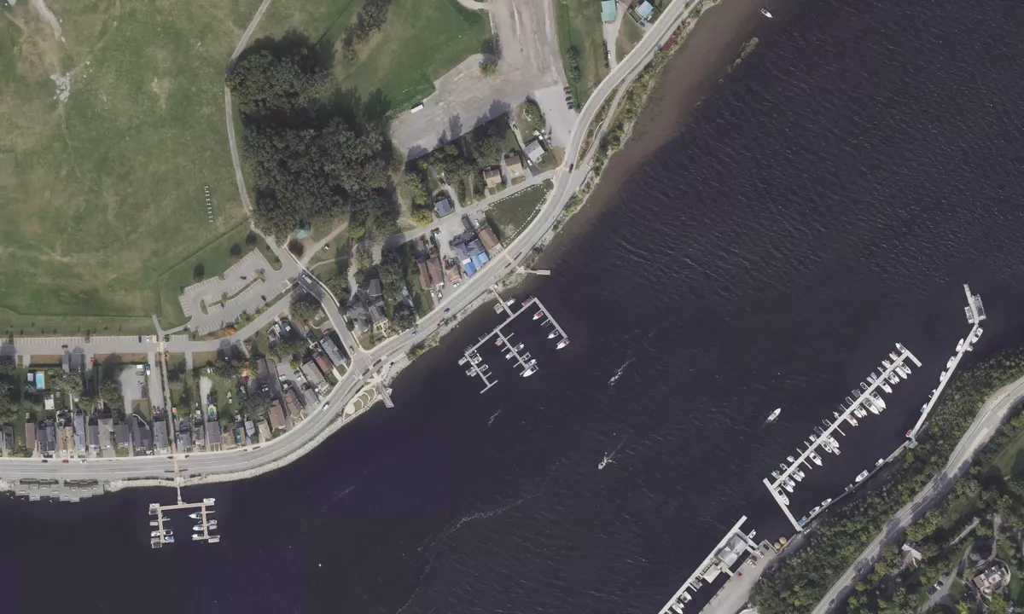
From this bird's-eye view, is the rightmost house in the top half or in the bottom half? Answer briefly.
bottom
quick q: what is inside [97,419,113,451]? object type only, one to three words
house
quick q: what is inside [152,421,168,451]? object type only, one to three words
house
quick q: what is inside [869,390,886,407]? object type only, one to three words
boat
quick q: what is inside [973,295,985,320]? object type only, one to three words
boat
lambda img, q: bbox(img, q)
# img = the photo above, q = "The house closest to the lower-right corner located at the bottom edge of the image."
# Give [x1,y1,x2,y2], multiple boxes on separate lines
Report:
[971,564,1007,595]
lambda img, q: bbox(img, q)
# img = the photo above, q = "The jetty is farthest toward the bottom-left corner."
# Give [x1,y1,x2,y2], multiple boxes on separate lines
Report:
[150,485,220,544]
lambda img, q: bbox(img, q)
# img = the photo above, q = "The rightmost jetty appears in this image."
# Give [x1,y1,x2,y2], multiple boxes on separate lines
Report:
[910,284,980,448]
